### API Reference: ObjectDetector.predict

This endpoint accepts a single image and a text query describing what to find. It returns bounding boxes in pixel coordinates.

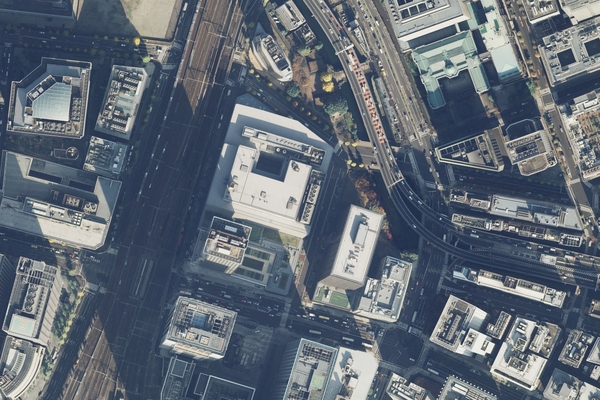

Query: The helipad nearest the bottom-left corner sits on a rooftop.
[9,314,36,337]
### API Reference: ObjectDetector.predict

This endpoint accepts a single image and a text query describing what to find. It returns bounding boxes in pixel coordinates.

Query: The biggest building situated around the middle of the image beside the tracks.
[204,104,334,242]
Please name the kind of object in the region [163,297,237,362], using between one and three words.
building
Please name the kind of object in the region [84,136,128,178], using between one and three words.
building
